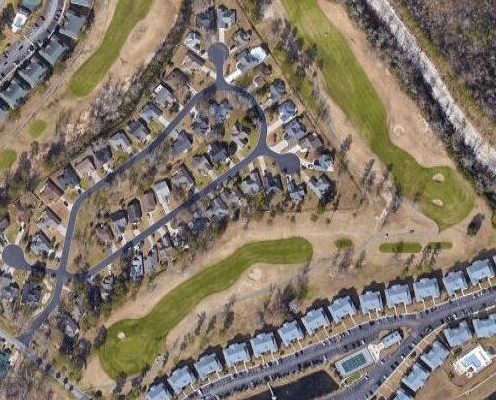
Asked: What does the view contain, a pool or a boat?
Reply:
pool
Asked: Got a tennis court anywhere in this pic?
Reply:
Yes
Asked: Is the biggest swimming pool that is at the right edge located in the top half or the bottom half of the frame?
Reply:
bottom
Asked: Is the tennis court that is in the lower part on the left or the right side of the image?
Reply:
right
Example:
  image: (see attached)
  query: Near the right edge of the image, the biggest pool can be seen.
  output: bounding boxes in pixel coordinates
[453,343,495,376]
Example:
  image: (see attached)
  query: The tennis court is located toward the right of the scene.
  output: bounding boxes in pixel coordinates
[336,346,373,377]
